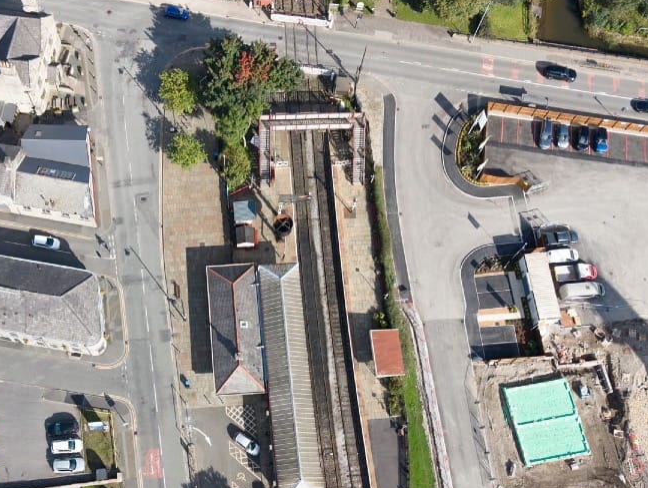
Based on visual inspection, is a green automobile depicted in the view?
No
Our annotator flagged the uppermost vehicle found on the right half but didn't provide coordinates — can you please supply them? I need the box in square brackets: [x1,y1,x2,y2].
[542,65,575,83]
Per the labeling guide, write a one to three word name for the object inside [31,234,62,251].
car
